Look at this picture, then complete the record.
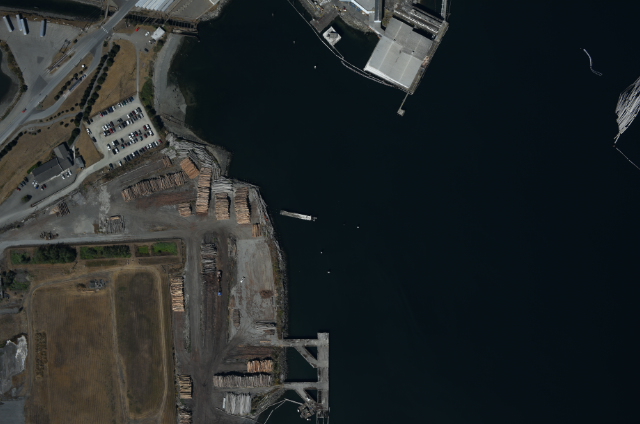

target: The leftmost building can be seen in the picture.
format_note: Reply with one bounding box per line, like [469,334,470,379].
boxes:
[31,144,73,185]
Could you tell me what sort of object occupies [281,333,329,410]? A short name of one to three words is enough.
pier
